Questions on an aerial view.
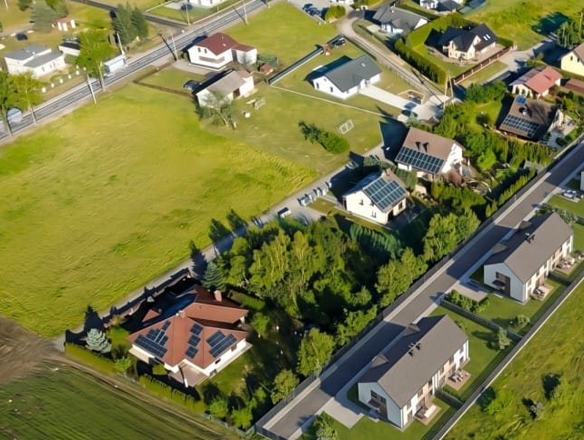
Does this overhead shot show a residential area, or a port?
residential area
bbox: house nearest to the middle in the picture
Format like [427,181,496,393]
[340,165,407,223]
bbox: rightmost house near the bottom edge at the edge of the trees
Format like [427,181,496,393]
[353,312,471,428]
